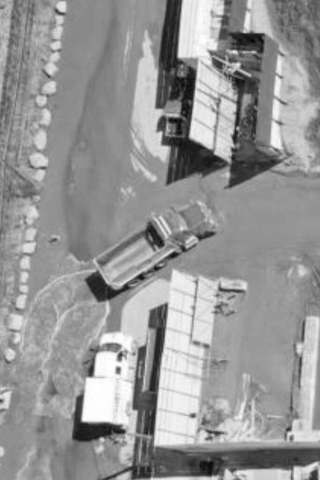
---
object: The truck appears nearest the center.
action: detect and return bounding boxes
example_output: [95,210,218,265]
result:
[86,197,226,293]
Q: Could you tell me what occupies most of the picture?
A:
paved ground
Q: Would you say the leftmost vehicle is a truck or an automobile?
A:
truck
